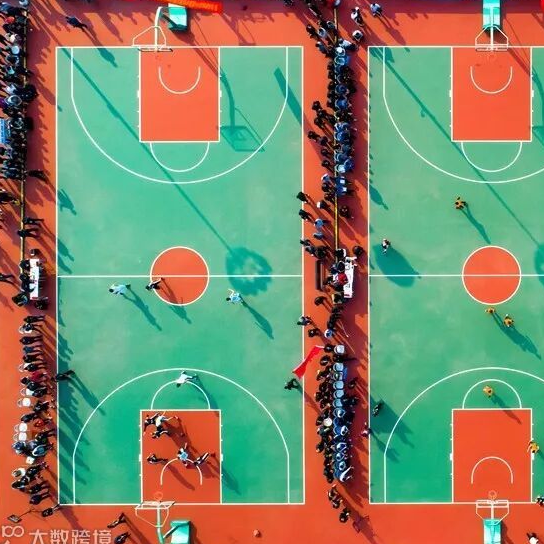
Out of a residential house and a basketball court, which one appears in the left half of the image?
basketball court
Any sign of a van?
No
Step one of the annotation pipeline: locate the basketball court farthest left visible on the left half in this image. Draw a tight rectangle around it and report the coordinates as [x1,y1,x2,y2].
[55,46,305,506]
